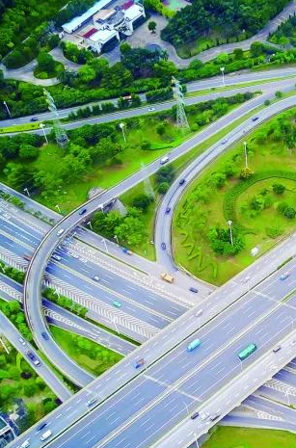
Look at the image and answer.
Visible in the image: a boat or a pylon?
pylon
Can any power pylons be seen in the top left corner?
Yes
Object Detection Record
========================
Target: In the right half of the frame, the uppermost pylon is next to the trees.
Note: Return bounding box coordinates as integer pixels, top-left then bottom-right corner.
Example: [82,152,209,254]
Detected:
[168,76,192,129]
